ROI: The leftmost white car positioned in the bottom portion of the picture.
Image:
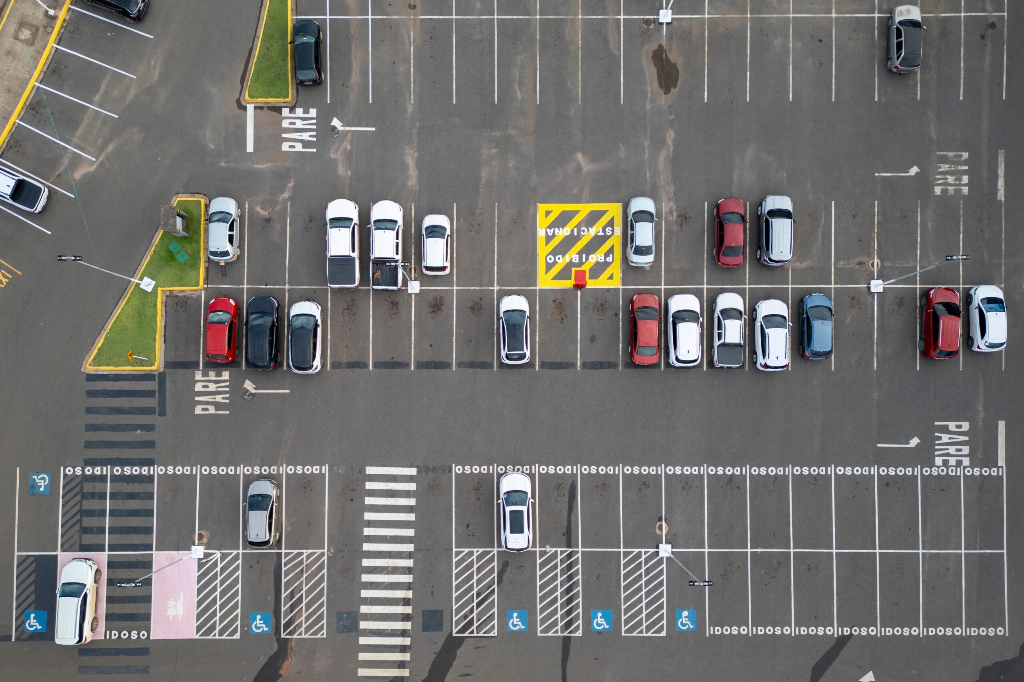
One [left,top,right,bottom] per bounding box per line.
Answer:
[53,558,104,646]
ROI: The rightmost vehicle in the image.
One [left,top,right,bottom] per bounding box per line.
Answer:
[965,285,1010,352]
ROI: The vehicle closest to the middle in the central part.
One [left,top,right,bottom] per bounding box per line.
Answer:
[497,295,532,364]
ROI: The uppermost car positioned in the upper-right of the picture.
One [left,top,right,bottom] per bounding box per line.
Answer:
[886,5,928,73]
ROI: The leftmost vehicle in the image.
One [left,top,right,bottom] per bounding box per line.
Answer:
[0,164,51,215]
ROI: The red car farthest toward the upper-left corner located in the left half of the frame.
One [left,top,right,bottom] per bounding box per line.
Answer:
[202,297,241,362]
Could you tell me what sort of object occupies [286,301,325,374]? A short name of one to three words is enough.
car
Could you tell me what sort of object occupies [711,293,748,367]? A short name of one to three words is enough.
truck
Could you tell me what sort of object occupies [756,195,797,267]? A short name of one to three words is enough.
car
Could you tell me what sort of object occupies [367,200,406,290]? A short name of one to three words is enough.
truck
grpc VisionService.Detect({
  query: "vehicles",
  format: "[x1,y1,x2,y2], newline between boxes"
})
[497,472,535,552]
[712,197,749,268]
[918,287,964,359]
[624,196,660,267]
[205,196,244,263]
[419,214,453,275]
[289,19,326,87]
[886,5,928,73]
[965,285,1010,352]
[76,0,147,24]
[323,199,363,290]
[798,293,838,360]
[752,299,793,371]
[628,293,663,365]
[242,479,281,548]
[665,294,703,367]
[53,558,104,646]
[286,301,325,374]
[0,164,51,215]
[202,297,241,362]
[497,295,532,364]
[756,195,797,267]
[243,296,283,370]
[711,293,748,367]
[367,200,406,290]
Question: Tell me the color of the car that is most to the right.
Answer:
white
